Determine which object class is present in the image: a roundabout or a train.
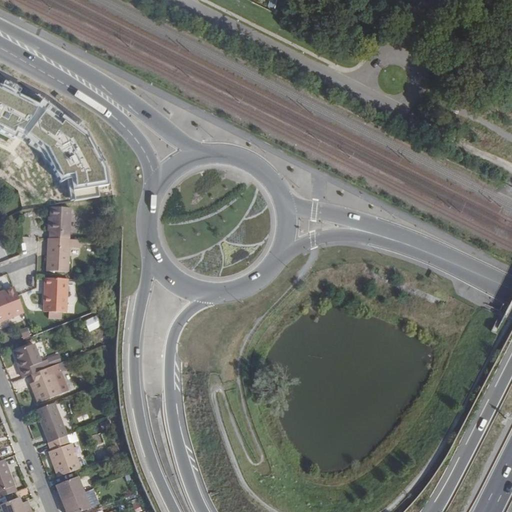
roundabout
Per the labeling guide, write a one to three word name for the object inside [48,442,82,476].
house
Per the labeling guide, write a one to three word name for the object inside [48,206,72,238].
house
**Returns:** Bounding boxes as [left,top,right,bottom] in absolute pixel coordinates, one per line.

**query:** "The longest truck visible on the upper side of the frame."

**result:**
[73,88,110,116]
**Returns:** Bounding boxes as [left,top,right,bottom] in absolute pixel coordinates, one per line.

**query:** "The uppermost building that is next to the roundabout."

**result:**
[0,79,111,201]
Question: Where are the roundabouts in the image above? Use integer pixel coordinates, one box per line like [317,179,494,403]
[137,143,296,303]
